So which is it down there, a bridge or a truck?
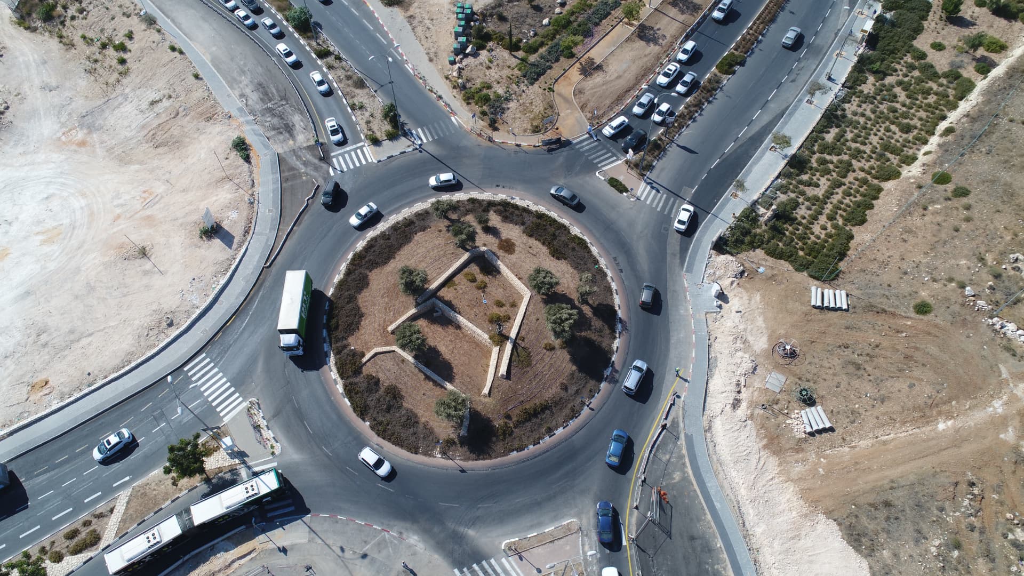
truck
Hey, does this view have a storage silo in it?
No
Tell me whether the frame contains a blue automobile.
Yes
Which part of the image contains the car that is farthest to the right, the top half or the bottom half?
top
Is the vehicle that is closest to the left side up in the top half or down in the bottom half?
bottom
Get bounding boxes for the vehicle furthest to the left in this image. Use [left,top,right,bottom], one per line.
[0,464,22,497]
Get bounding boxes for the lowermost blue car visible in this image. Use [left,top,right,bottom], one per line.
[595,501,615,545]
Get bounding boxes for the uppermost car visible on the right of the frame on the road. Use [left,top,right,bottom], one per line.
[711,0,735,21]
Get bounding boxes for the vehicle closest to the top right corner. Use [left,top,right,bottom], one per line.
[780,26,803,51]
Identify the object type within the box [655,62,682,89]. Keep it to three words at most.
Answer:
car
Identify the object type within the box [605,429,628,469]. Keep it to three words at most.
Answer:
car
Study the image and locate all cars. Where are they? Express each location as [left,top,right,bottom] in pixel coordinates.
[215,0,239,12]
[93,427,135,463]
[630,90,656,118]
[605,429,628,469]
[600,114,631,138]
[595,501,615,545]
[274,41,301,68]
[675,39,699,64]
[238,0,263,15]
[672,204,693,235]
[348,201,381,229]
[674,69,699,97]
[548,185,582,208]
[650,100,675,126]
[601,565,618,576]
[655,62,682,89]
[621,359,647,398]
[308,70,332,98]
[711,0,735,21]
[260,15,286,40]
[428,172,459,189]
[619,126,649,154]
[319,178,342,210]
[232,7,259,32]
[357,445,393,481]
[780,26,803,51]
[325,117,345,146]
[637,282,657,313]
